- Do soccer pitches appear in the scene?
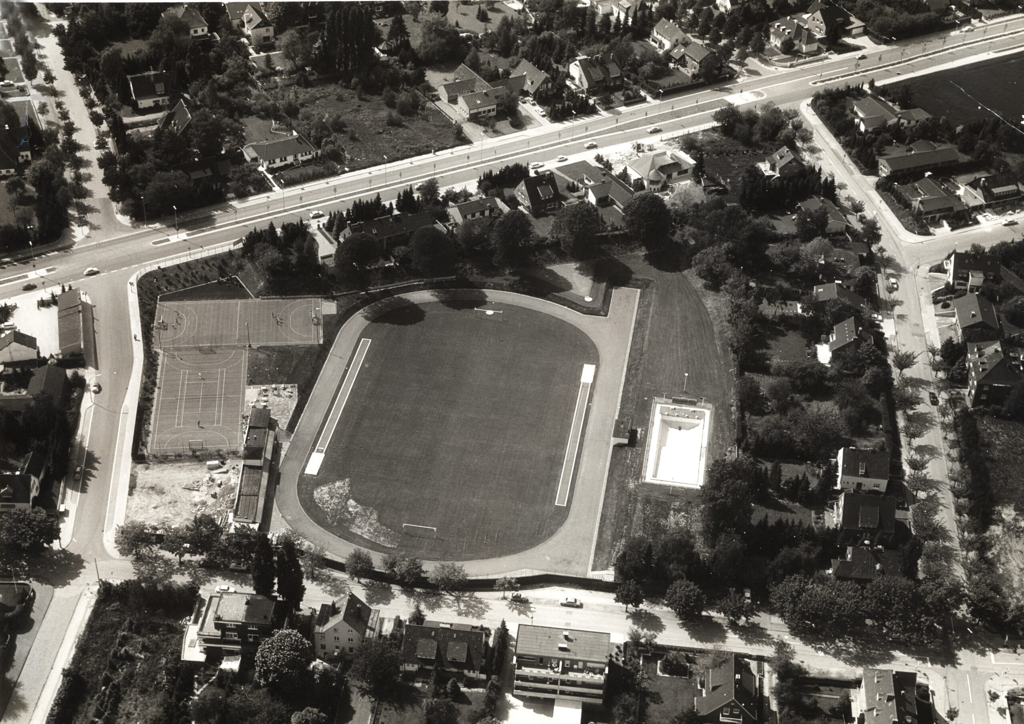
Yes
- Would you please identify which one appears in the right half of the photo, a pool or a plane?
pool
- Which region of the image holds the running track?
center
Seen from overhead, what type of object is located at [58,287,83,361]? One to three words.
building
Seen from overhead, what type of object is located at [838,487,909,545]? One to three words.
house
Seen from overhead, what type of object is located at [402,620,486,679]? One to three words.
house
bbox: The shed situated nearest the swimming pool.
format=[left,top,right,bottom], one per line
[613,419,631,447]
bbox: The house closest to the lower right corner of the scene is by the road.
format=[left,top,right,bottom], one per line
[863,667,918,724]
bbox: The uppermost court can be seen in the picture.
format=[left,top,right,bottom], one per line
[157,298,323,347]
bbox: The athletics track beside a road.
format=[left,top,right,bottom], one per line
[275,287,640,579]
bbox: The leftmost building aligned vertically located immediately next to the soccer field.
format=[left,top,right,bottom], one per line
[234,408,278,531]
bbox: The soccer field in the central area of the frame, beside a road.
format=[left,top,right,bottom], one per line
[297,300,600,561]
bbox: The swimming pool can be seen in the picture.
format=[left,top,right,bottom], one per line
[642,397,712,490]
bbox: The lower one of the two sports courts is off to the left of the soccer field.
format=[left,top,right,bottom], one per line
[151,346,248,452]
